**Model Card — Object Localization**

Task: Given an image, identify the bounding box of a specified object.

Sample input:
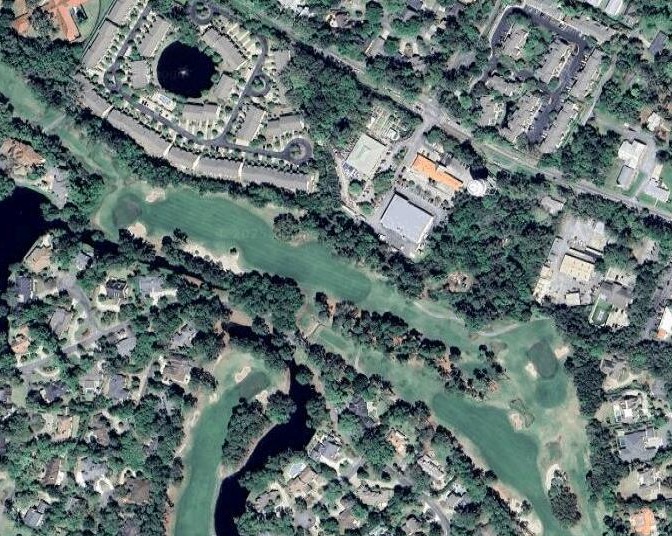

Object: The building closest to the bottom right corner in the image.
[629,508,659,534]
